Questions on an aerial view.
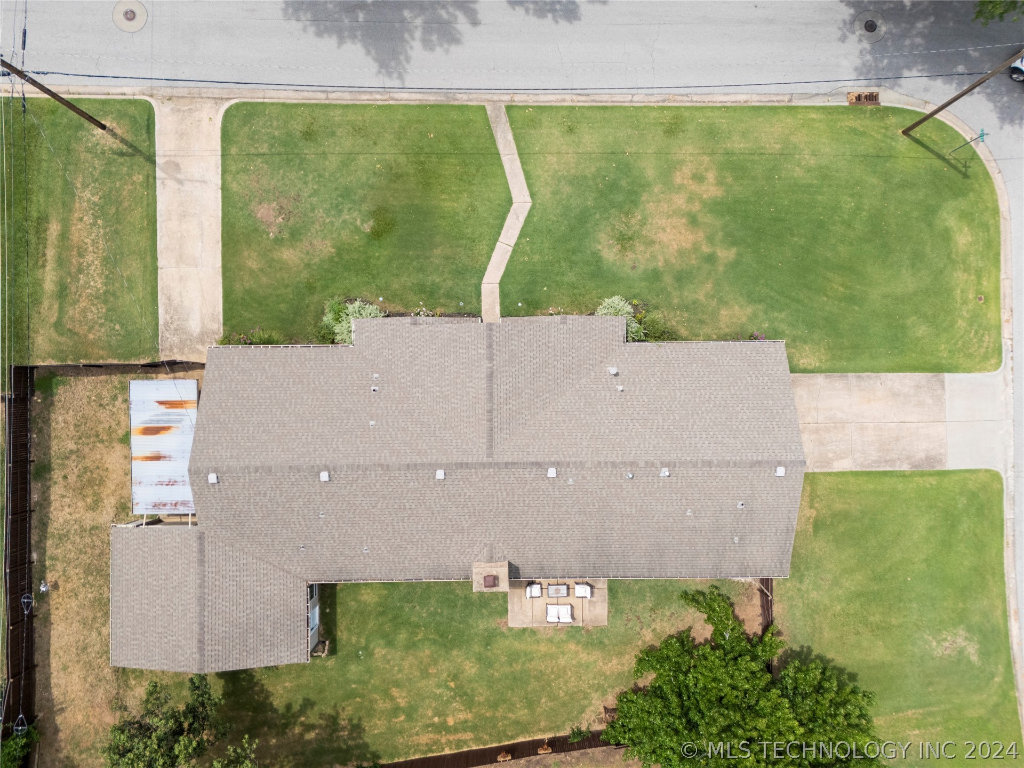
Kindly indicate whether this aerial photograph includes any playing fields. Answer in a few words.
No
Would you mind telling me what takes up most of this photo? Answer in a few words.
grass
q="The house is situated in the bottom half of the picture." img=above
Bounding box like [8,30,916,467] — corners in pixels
[111,315,805,673]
